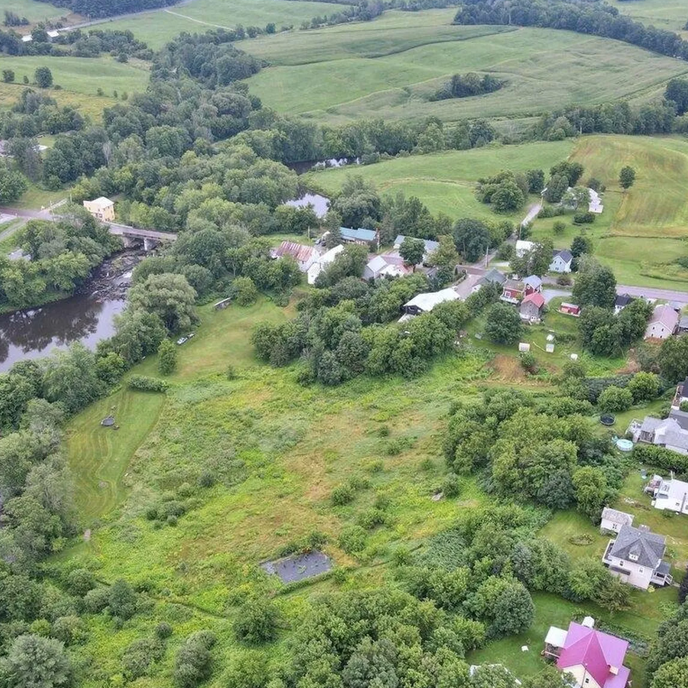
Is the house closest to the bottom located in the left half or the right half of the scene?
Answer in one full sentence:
The house closest to the bottom sits on the right side.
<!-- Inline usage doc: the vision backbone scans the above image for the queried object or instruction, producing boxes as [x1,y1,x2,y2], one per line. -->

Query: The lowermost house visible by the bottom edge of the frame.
[543,621,634,688]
